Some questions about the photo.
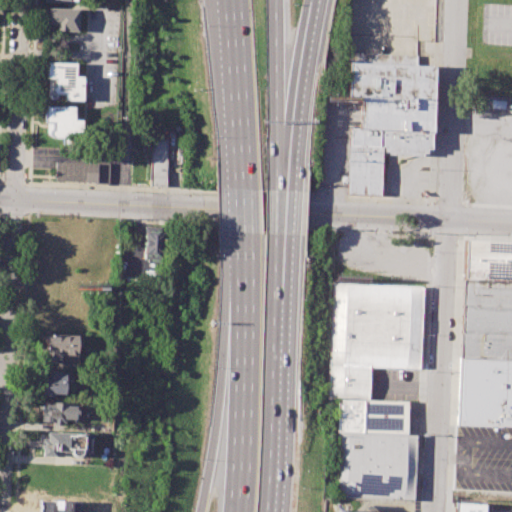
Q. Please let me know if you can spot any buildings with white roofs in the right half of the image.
Yes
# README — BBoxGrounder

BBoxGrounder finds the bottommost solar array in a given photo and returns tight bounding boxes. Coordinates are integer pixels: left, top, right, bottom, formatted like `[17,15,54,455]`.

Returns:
[362,475,402,496]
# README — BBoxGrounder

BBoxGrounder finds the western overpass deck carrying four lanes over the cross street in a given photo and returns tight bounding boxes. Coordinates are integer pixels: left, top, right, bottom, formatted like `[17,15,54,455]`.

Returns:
[220,189,264,235]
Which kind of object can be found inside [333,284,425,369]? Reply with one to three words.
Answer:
building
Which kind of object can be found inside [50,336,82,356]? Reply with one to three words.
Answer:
house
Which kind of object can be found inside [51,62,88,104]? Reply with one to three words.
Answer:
building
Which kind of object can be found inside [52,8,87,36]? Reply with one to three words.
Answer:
house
